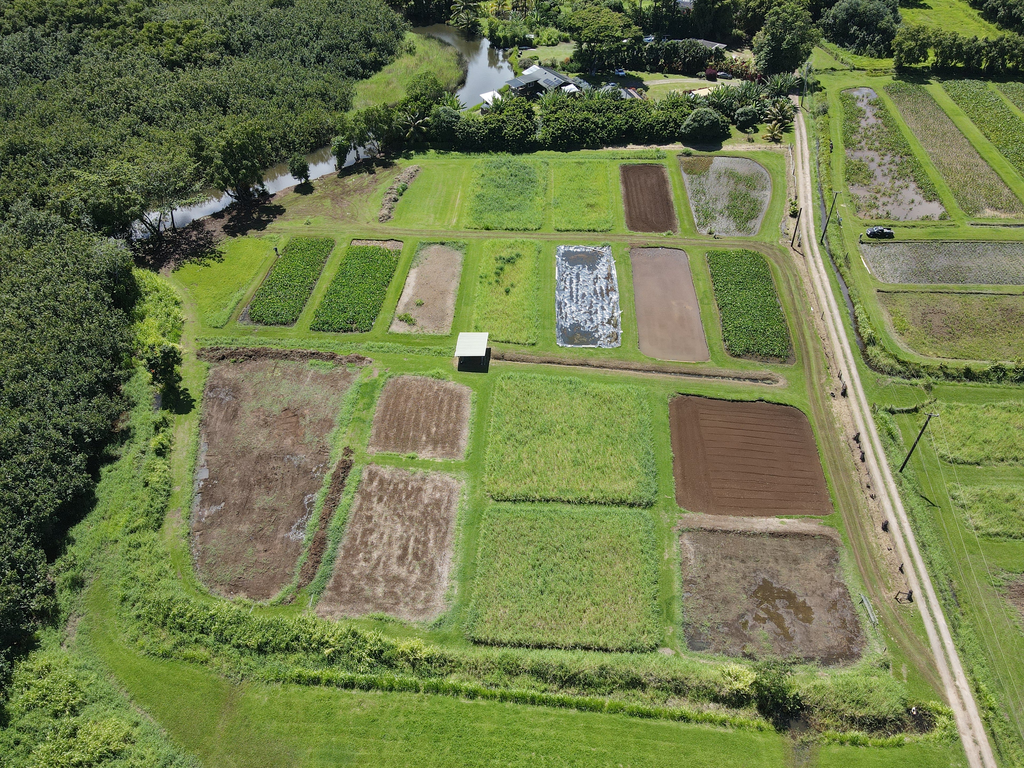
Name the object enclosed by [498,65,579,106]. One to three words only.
house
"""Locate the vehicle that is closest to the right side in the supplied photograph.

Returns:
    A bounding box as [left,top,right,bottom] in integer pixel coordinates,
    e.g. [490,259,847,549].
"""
[865,226,899,238]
